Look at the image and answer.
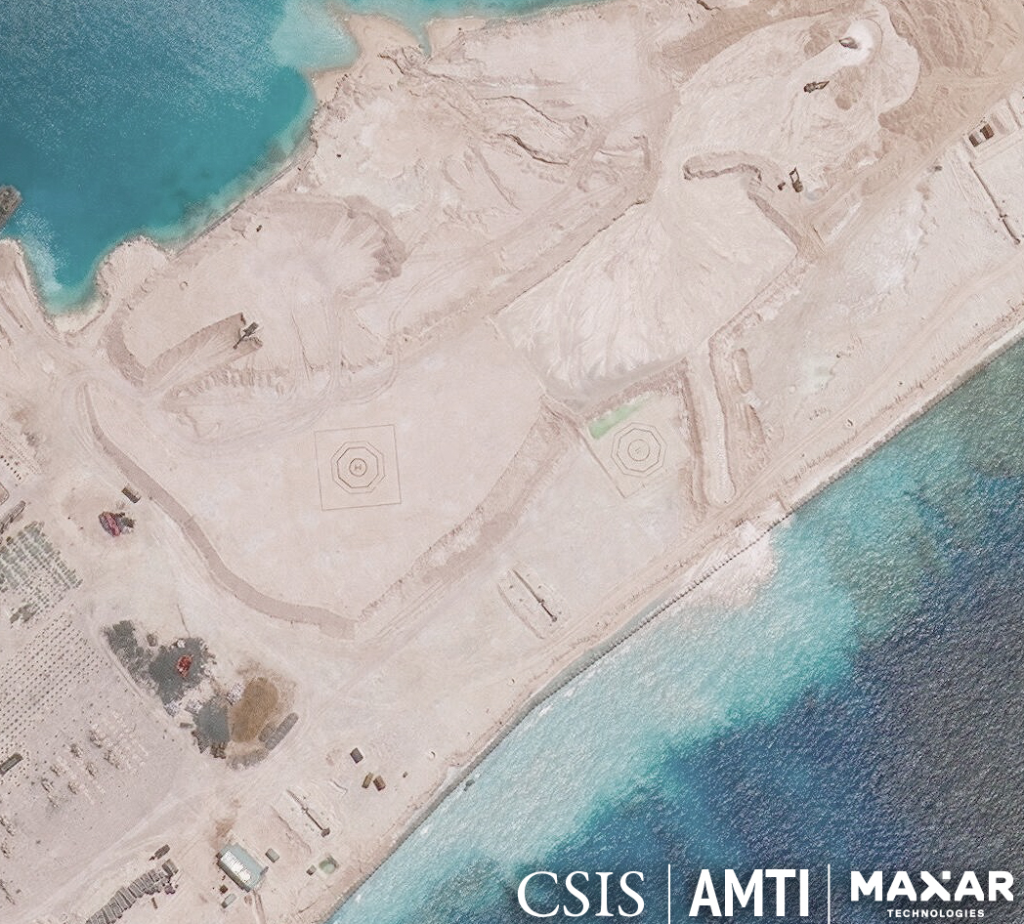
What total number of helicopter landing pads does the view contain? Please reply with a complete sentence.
The count of helicopter landing pads comes to 2.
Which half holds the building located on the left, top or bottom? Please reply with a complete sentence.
Seen from above, the building located on the left lies in the bottom half of the view.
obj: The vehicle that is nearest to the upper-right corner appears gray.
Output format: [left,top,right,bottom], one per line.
[839,38,859,51]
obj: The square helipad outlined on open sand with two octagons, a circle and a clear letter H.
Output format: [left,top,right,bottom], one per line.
[314,425,401,511]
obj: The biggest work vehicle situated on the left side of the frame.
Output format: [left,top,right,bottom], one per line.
[234,323,259,348]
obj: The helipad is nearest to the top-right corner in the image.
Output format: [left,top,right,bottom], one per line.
[583,408,674,498]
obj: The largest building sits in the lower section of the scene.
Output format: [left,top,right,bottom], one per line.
[220,845,270,888]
